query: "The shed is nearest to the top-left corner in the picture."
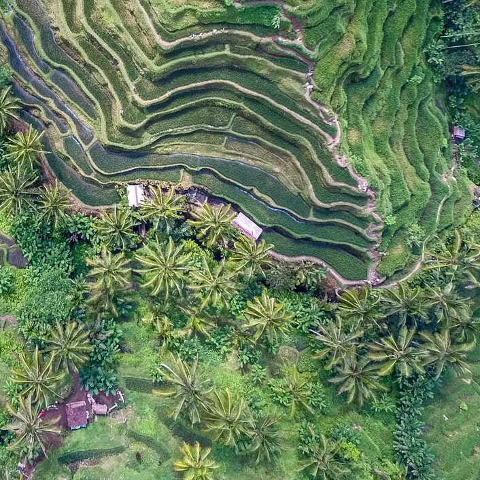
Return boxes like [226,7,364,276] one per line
[127,184,144,206]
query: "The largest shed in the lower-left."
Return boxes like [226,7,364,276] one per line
[65,397,90,430]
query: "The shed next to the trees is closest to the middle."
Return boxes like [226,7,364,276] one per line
[229,212,263,240]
